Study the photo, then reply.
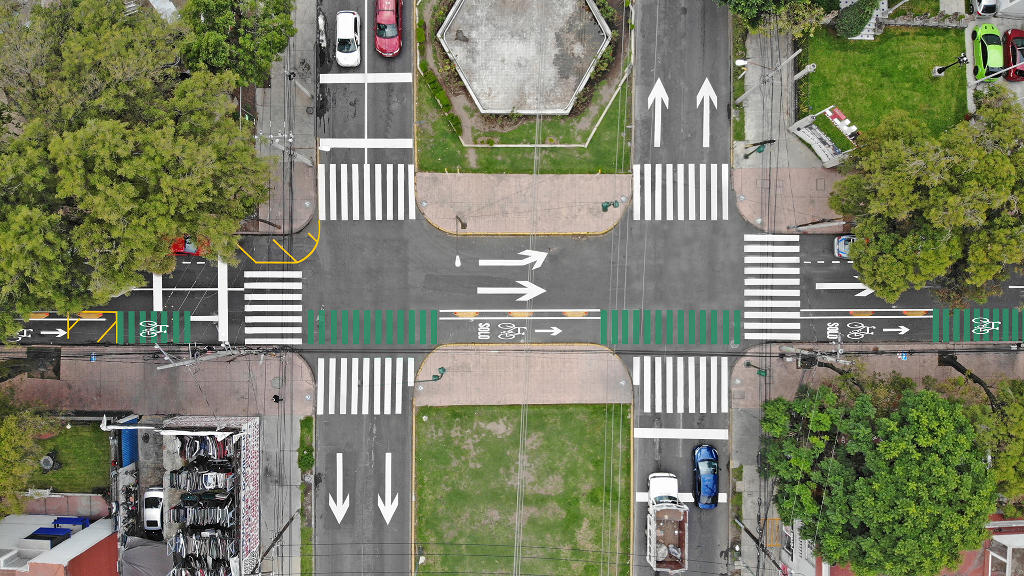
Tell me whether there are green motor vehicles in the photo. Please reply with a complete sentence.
Yes, the image includes a green motor vehicle.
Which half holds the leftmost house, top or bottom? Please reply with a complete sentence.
You can find the leftmost house in the bottom half.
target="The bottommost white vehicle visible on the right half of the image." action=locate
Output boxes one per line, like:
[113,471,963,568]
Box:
[644,470,688,572]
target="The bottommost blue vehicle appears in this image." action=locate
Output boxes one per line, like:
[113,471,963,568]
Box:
[693,445,725,511]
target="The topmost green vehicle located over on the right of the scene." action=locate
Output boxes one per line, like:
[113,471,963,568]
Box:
[972,20,1010,79]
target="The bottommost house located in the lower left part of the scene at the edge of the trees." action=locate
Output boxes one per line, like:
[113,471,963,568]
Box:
[0,518,116,576]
